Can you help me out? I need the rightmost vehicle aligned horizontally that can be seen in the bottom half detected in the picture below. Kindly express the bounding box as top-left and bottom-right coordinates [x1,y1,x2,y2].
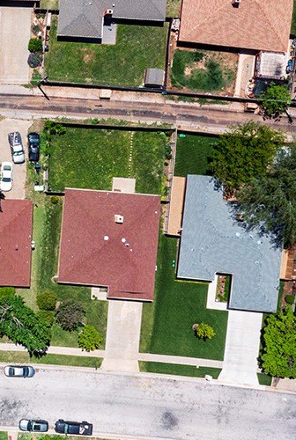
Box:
[54,419,94,436]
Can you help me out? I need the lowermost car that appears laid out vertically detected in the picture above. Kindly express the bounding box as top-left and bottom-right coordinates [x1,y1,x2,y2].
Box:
[0,161,13,191]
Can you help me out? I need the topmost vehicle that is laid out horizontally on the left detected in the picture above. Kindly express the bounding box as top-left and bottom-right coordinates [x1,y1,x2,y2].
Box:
[4,364,34,378]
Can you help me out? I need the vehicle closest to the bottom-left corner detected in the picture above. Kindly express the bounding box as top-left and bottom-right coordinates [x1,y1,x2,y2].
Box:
[19,418,48,433]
